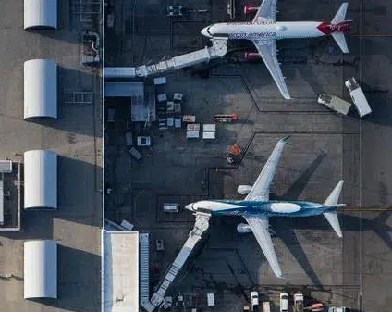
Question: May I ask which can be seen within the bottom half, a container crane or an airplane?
airplane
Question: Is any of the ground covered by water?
No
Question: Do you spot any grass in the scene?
No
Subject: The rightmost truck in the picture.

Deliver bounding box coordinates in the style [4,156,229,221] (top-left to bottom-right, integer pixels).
[345,79,374,116]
